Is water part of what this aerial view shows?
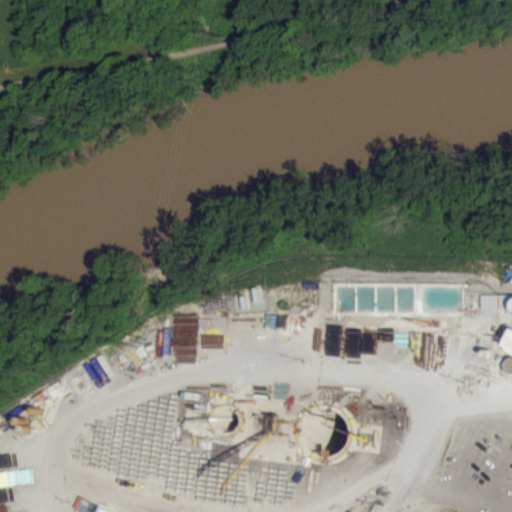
Yes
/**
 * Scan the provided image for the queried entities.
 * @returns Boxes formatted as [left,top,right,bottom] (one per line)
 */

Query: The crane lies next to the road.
[218,412,293,500]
